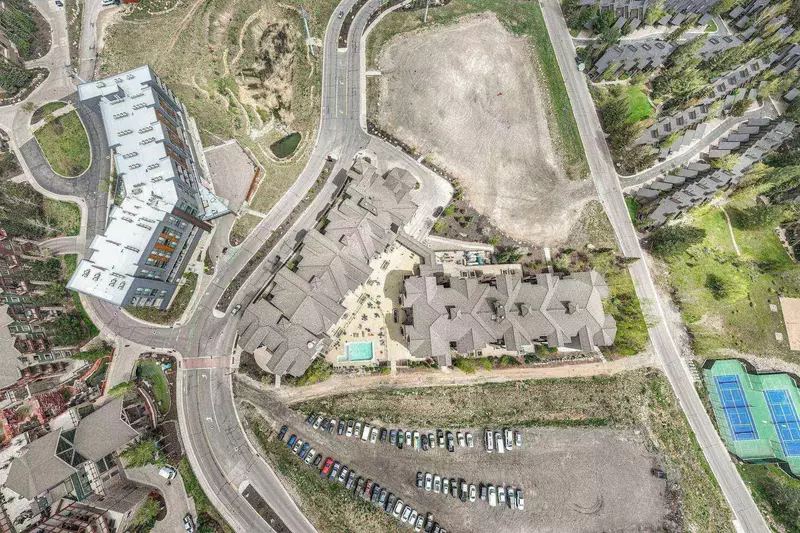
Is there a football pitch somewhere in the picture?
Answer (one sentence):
No, I can see no football pitch in this picture.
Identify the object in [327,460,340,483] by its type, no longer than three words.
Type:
vehicle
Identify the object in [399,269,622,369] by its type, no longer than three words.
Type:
building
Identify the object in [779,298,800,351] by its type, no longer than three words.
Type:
sports court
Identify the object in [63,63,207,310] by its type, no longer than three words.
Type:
building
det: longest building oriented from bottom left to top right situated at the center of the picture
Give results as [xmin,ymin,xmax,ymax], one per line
[230,156,419,385]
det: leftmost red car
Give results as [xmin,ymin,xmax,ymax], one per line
[320,457,333,478]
